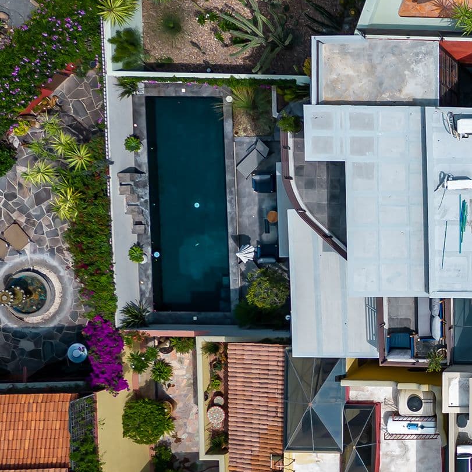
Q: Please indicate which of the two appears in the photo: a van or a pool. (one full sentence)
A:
I can see a pool in this picture.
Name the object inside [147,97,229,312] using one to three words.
swimming pool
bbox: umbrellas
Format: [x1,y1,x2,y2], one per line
[235,241,262,259]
